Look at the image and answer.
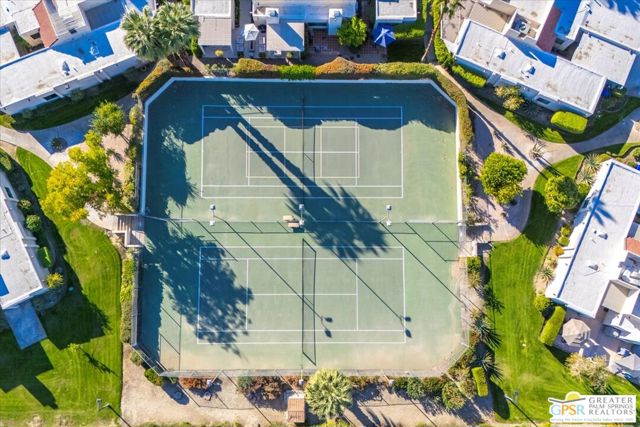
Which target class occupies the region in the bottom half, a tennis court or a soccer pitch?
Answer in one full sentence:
Looking in the bottom half, you will find a tennis court.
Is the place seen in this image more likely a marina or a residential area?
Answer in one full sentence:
This looks like a residential area.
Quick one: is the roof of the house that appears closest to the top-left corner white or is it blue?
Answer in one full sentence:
From above, the roof of the house that appears closest to the top-left corner appears white.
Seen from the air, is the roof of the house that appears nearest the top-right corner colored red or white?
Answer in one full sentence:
The color of the roof of the house that appears nearest the top-right corner is white.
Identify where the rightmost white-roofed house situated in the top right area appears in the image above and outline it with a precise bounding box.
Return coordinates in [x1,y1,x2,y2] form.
[555,0,640,93]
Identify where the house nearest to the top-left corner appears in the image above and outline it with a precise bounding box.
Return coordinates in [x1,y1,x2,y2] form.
[0,0,164,118]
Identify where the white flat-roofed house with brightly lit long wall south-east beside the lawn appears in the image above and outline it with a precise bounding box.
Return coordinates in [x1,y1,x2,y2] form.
[547,161,640,339]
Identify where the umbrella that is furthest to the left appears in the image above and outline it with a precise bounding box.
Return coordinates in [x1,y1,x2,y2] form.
[244,25,260,42]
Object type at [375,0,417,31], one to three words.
house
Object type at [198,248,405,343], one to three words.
tennis court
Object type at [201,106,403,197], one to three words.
tennis court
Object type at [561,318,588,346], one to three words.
umbrella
